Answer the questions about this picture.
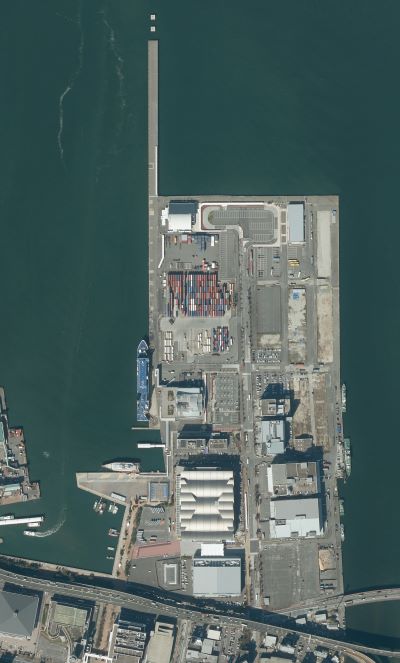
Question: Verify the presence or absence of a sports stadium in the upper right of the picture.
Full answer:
No, looking in the upper right of the picture, there is no sports stadium.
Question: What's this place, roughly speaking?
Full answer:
It's a port.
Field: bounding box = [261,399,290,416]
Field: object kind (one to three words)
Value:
building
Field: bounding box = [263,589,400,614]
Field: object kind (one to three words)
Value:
bridge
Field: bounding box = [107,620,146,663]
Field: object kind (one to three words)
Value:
building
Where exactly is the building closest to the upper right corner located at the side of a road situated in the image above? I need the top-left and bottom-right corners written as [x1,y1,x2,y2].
[288,204,308,244]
